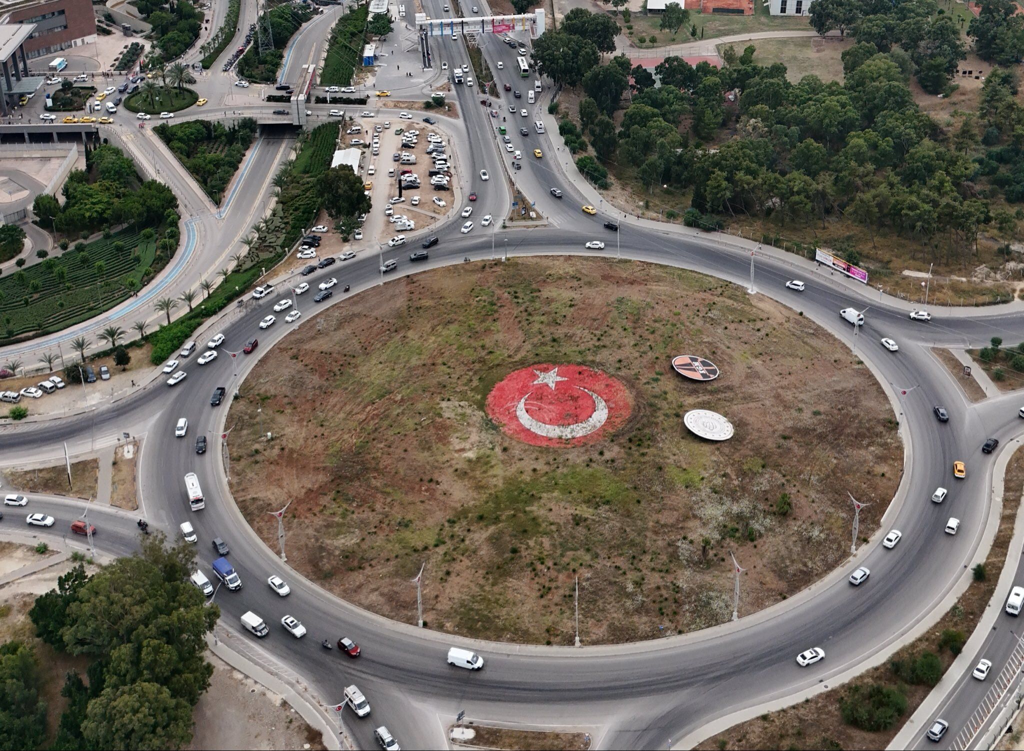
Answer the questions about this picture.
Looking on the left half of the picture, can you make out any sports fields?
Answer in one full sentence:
No, I can find no sports field on the left half of the picture.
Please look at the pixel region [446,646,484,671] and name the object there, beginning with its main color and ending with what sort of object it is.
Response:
white vehicle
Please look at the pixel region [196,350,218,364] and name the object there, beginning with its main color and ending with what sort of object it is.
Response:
white car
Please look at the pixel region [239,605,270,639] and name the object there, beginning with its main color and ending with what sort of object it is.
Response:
white truck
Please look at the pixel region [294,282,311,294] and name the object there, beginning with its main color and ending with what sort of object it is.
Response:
white vehicle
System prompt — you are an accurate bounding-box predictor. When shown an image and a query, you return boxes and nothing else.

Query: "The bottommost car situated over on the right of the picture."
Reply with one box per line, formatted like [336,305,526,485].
[926,717,949,744]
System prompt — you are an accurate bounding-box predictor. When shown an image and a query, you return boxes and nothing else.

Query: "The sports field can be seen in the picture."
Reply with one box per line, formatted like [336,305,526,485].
[720,38,846,81]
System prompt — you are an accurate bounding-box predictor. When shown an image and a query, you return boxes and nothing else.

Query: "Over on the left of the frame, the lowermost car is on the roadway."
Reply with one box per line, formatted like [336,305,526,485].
[375,726,398,751]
